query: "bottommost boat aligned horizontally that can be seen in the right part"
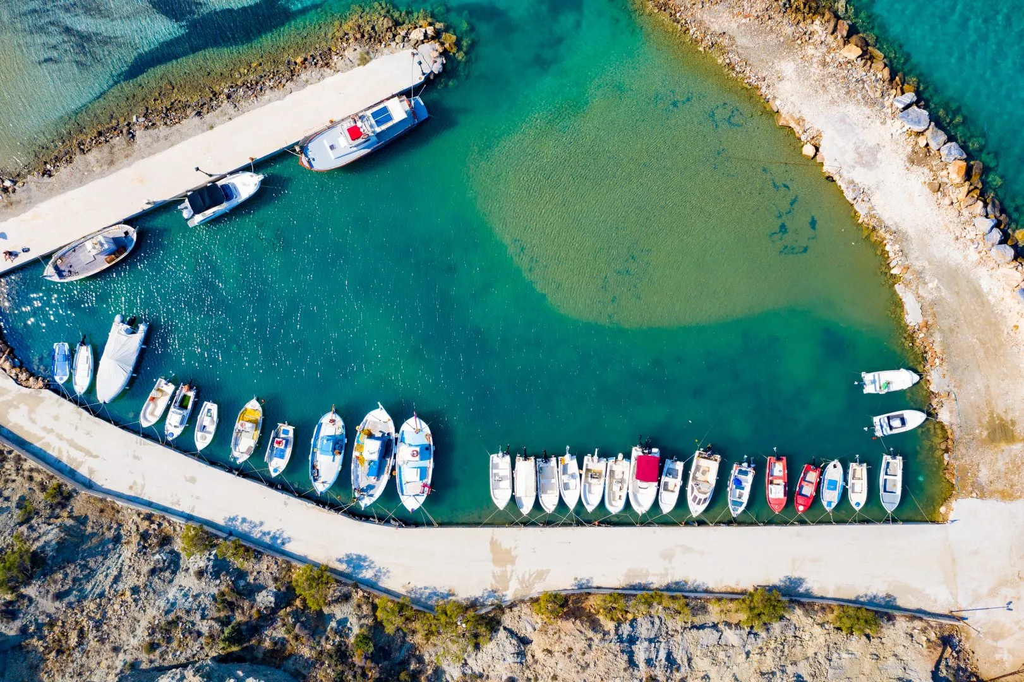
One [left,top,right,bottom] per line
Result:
[865,404,938,445]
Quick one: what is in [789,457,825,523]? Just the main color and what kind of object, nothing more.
red boat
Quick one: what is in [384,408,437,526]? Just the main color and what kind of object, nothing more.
white boat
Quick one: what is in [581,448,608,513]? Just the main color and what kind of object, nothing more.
white boat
